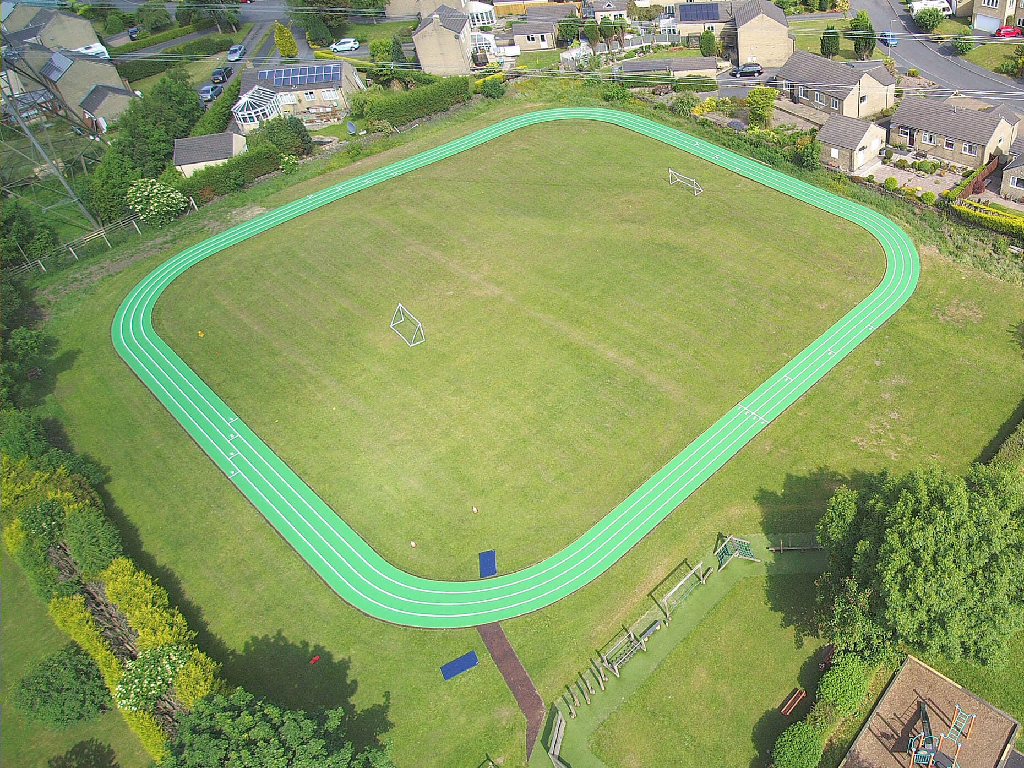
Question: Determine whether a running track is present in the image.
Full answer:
Yes, there is a running track in the image.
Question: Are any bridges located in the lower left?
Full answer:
No, in the lower left there is no bridge.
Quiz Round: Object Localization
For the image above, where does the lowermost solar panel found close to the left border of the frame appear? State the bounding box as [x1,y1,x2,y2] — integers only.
[41,52,72,79]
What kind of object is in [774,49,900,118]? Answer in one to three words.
house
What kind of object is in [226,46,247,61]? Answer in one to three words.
car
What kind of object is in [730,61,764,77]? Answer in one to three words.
car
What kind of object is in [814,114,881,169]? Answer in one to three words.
building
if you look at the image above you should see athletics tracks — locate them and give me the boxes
[110,107,922,630]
